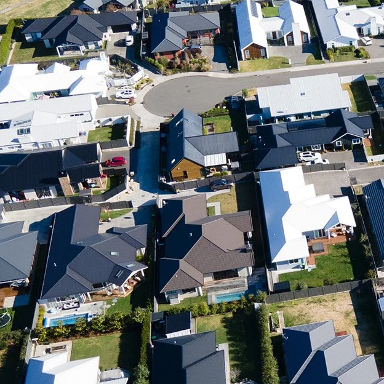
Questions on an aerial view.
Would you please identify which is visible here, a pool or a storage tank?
pool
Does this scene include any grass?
Yes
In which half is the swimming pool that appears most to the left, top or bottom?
bottom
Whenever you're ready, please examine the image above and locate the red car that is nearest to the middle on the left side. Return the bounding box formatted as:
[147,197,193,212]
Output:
[105,155,129,170]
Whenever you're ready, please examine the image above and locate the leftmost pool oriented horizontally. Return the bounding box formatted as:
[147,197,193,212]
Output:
[44,306,93,332]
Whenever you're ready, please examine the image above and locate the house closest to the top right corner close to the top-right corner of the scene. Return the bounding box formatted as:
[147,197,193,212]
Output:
[309,0,384,53]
